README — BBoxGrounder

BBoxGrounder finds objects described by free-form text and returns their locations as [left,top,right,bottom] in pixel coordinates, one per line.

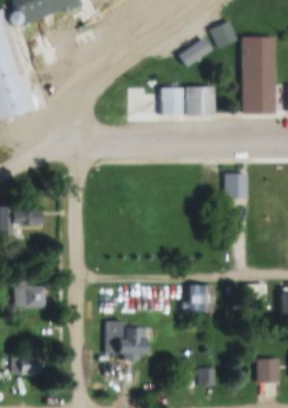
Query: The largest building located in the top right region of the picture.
[240,36,277,112]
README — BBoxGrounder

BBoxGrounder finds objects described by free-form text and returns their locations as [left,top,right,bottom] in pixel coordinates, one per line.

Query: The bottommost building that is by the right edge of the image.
[256,358,281,383]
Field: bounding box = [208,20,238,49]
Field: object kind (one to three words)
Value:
shed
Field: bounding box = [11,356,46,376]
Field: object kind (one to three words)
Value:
house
